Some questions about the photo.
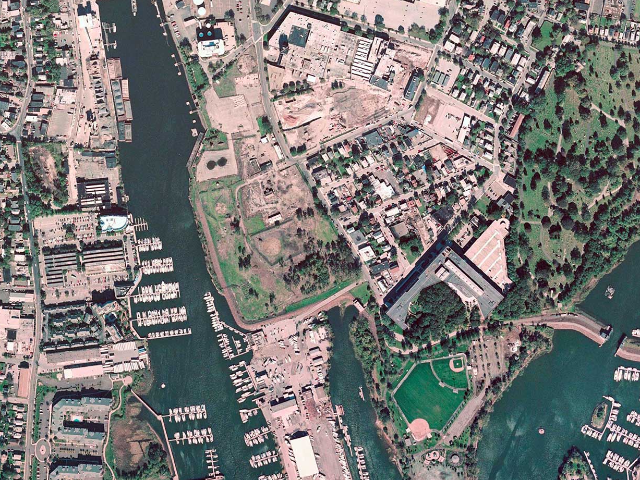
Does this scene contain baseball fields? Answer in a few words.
Yes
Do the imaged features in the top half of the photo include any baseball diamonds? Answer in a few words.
No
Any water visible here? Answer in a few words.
Yes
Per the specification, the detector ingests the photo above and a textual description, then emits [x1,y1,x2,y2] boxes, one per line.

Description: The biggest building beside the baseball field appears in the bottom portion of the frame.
[391,246,505,331]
